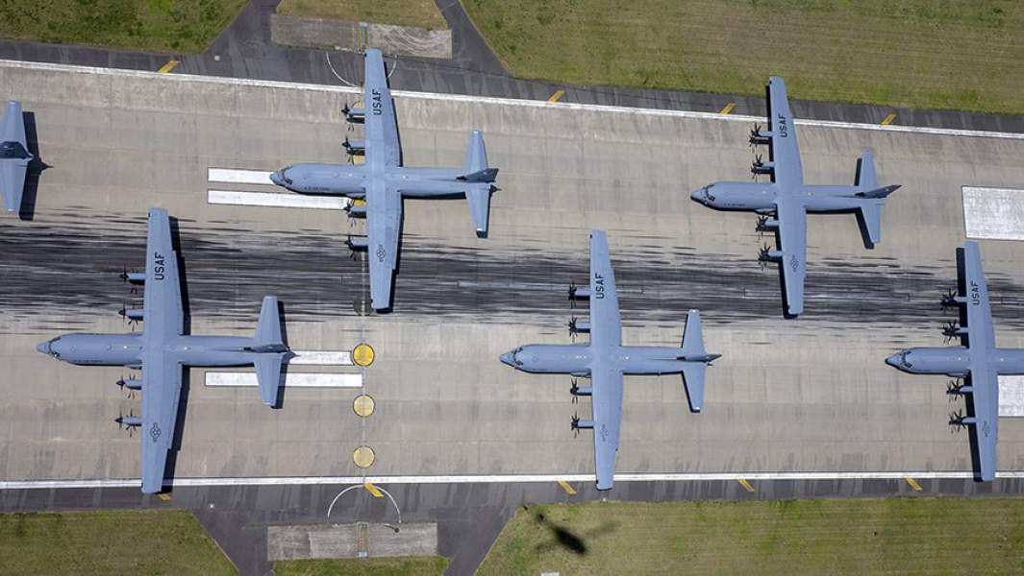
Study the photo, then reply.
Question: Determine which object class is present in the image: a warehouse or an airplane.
airplane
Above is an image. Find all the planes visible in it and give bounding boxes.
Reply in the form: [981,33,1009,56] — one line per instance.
[0,101,33,211]
[269,49,499,308]
[497,230,721,489]
[887,243,1024,480]
[38,209,291,492]
[690,76,899,313]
